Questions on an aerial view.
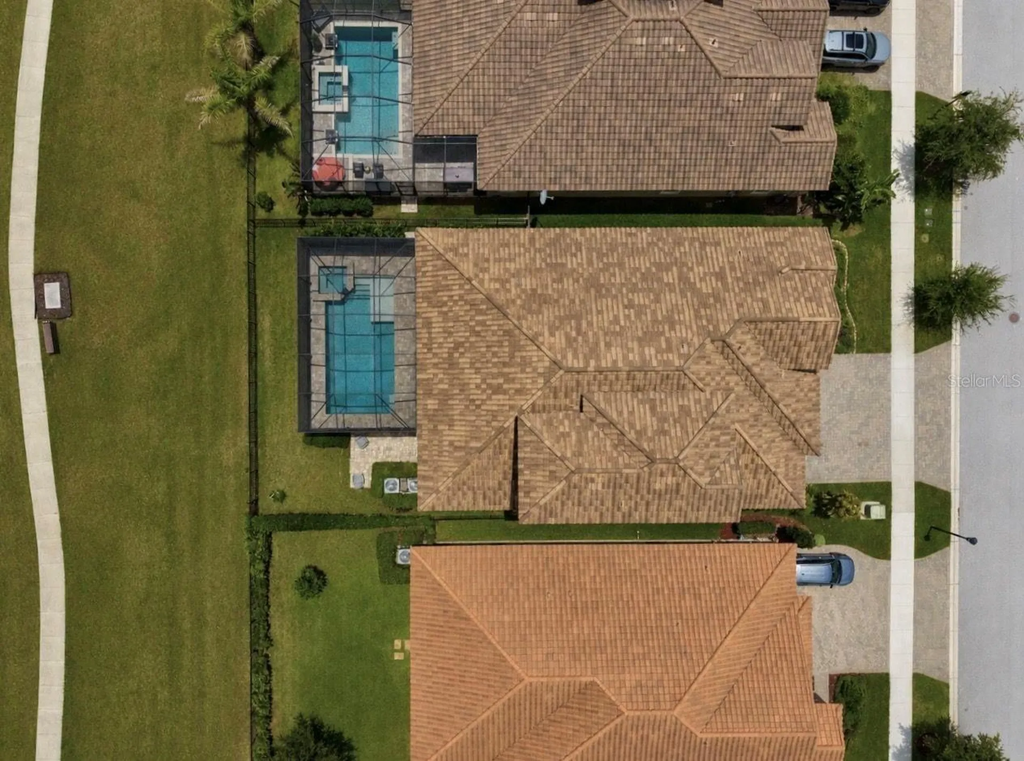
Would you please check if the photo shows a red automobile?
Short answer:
No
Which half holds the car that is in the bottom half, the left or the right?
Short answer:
right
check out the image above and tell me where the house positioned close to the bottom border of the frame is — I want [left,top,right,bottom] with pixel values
[408,540,850,761]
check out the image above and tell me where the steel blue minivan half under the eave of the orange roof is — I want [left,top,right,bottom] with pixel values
[797,552,855,592]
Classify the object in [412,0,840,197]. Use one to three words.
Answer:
house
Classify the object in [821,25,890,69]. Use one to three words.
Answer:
car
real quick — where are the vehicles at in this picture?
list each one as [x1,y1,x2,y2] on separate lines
[821,25,890,69]
[829,0,888,15]
[797,552,855,592]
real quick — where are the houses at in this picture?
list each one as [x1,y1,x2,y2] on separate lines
[408,540,850,761]
[414,226,842,525]
[412,0,840,197]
